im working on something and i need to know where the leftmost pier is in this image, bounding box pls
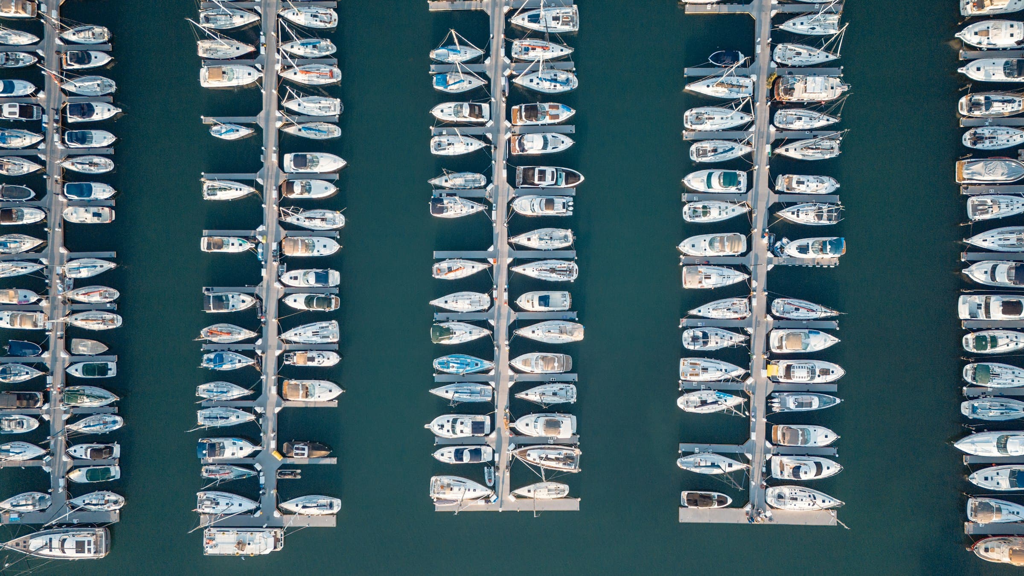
[0,0,121,524]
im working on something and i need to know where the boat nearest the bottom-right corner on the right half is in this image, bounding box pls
[968,533,1024,566]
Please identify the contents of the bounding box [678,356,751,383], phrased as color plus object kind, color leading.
white boat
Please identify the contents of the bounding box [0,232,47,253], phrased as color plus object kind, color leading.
white boat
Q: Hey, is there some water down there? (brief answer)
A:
Yes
